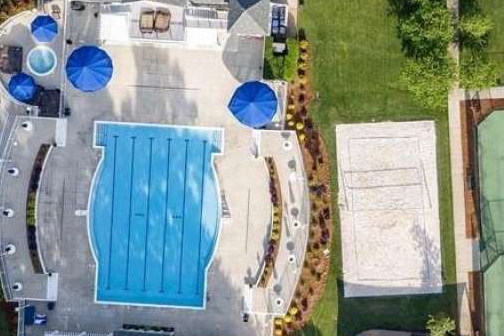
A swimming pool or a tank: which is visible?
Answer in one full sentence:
I can see a swimming pool in this picture.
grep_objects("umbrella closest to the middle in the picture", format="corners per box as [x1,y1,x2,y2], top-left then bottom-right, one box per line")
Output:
[230,82,277,128]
